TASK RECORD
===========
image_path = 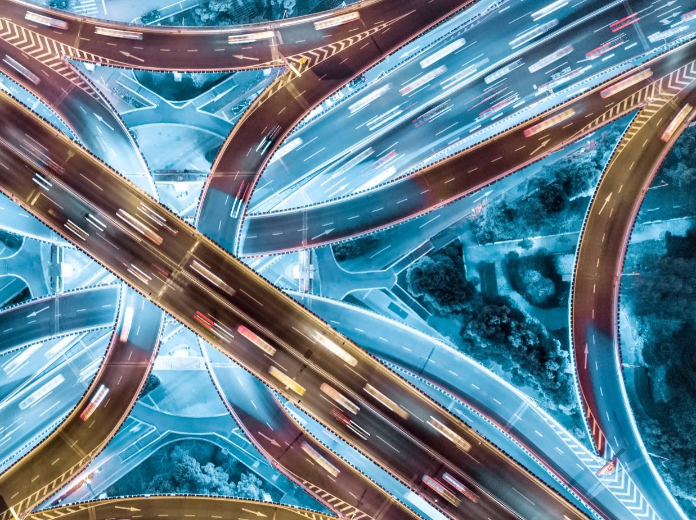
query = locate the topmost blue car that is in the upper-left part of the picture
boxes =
[139,9,162,23]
